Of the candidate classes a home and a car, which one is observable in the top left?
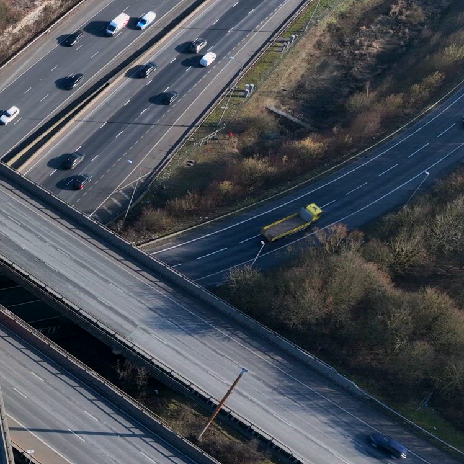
car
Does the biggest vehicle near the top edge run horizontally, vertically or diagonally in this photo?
diagonally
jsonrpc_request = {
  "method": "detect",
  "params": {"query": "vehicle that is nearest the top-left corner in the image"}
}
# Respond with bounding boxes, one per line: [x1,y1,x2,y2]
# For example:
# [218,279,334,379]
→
[64,33,81,47]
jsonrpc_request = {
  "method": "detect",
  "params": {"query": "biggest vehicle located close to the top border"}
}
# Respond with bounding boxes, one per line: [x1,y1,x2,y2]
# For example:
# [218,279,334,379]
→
[106,13,128,35]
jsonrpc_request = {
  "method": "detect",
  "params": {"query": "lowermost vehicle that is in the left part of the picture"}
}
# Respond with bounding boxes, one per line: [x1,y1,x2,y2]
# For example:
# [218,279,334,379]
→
[69,173,91,192]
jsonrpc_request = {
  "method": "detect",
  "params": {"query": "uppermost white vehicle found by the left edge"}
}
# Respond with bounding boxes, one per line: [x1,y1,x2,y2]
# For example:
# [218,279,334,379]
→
[0,107,19,124]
